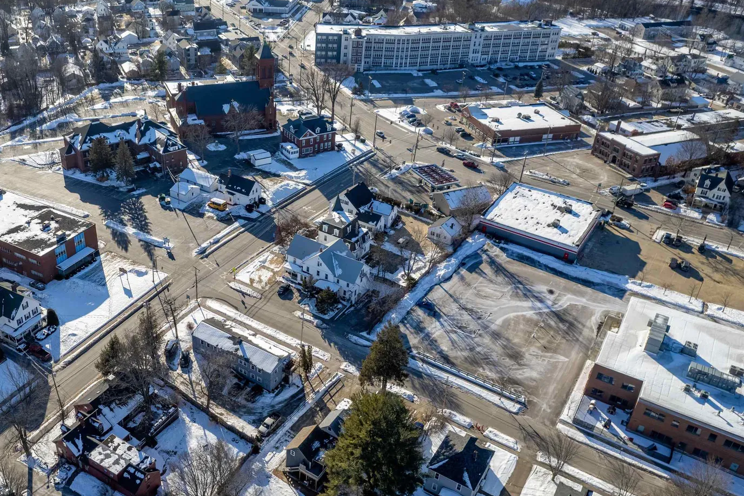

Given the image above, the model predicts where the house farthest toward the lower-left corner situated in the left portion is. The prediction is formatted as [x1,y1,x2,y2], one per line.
[52,375,163,496]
